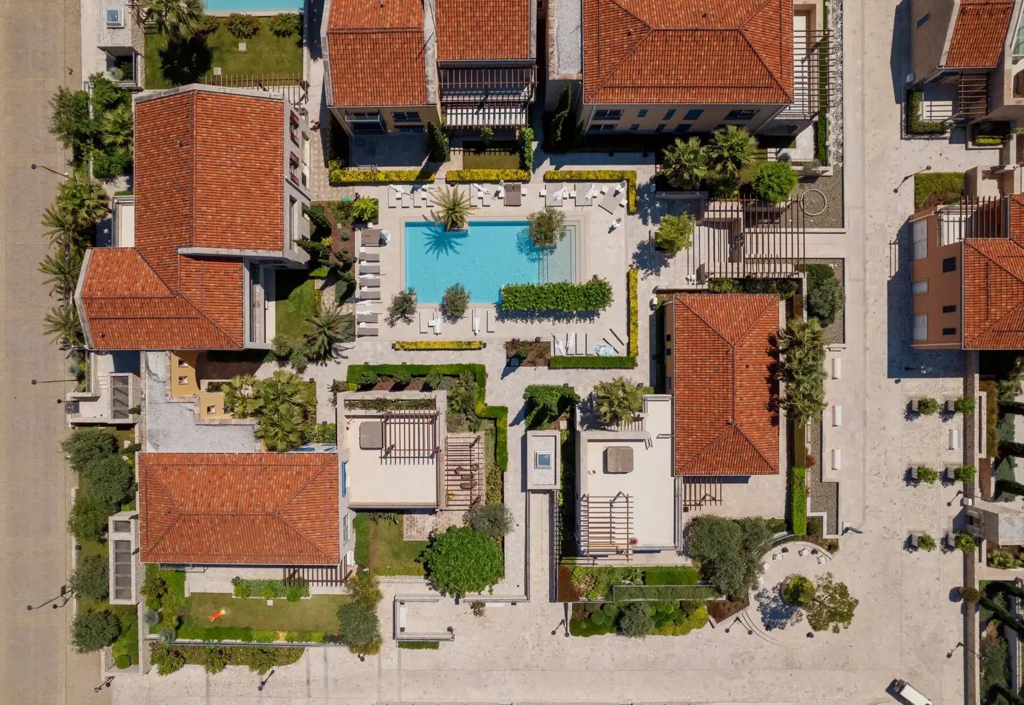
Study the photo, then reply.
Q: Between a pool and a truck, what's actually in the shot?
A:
pool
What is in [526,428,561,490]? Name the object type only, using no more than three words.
building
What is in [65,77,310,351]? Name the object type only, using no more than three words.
house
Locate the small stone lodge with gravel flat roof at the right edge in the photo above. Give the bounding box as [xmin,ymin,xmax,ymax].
[952,501,1024,545]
